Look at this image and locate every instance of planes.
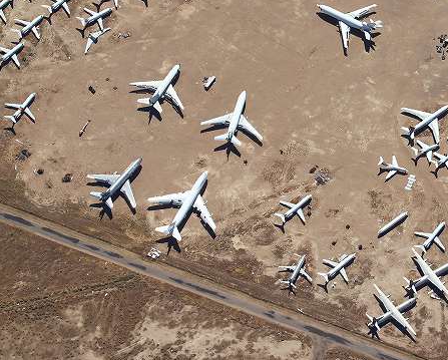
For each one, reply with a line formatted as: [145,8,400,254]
[367,286,418,338]
[5,93,37,122]
[0,45,23,69]
[414,223,445,252]
[414,141,439,165]
[379,153,407,179]
[278,255,311,286]
[149,172,219,244]
[200,91,262,144]
[432,152,448,170]
[403,105,448,144]
[0,0,11,23]
[130,65,185,111]
[317,0,382,52]
[278,196,311,225]
[88,158,142,209]
[44,0,70,16]
[14,16,44,39]
[80,9,113,30]
[321,255,356,284]
[405,250,448,297]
